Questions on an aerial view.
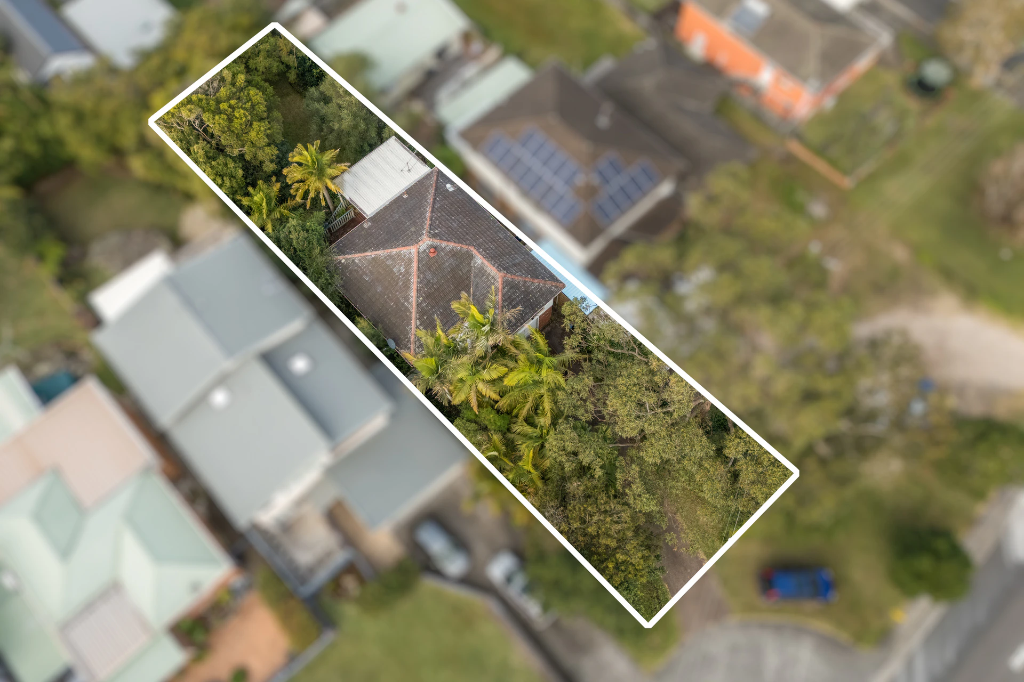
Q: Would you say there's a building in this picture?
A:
Yes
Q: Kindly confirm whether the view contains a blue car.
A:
Yes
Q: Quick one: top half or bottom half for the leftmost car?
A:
bottom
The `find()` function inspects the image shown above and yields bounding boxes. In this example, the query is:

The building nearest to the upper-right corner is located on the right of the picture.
[670,0,888,140]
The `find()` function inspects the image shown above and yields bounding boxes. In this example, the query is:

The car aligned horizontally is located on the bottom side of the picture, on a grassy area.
[760,566,835,602]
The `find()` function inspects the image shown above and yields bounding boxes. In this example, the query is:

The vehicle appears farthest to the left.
[407,511,475,586]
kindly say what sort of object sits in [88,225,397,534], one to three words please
house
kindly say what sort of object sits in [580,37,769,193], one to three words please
house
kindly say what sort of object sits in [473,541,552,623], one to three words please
vehicle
